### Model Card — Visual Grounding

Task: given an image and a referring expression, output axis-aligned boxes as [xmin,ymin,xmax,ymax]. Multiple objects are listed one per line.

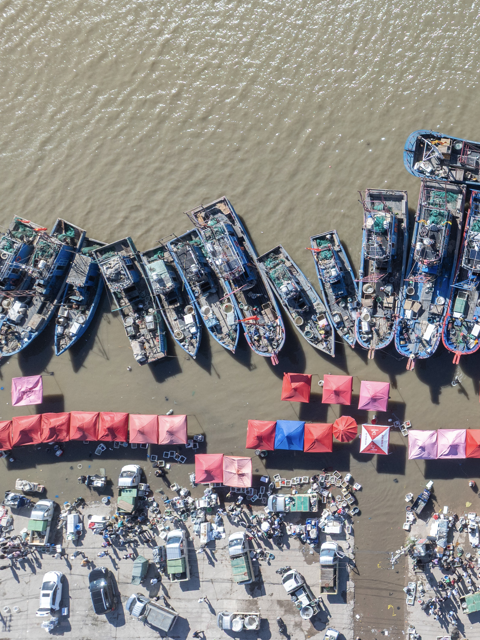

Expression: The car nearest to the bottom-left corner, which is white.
[37,569,66,618]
